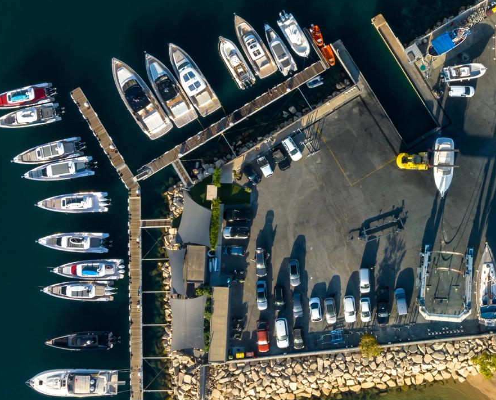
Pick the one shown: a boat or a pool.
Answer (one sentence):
I can see a boat in this picture.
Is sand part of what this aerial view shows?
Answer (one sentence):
Yes, sand can be seen from above here.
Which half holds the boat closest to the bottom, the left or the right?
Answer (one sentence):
The boat closest to the bottom appears in the left half of the scene.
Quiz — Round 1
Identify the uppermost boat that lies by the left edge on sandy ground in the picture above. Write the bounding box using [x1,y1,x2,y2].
[0,83,60,108]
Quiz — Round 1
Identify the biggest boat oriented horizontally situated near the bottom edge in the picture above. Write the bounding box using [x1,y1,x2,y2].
[26,371,125,397]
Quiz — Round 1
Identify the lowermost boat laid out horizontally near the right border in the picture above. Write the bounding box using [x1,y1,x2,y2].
[439,63,487,82]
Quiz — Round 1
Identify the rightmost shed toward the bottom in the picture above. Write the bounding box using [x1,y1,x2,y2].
[209,284,233,363]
